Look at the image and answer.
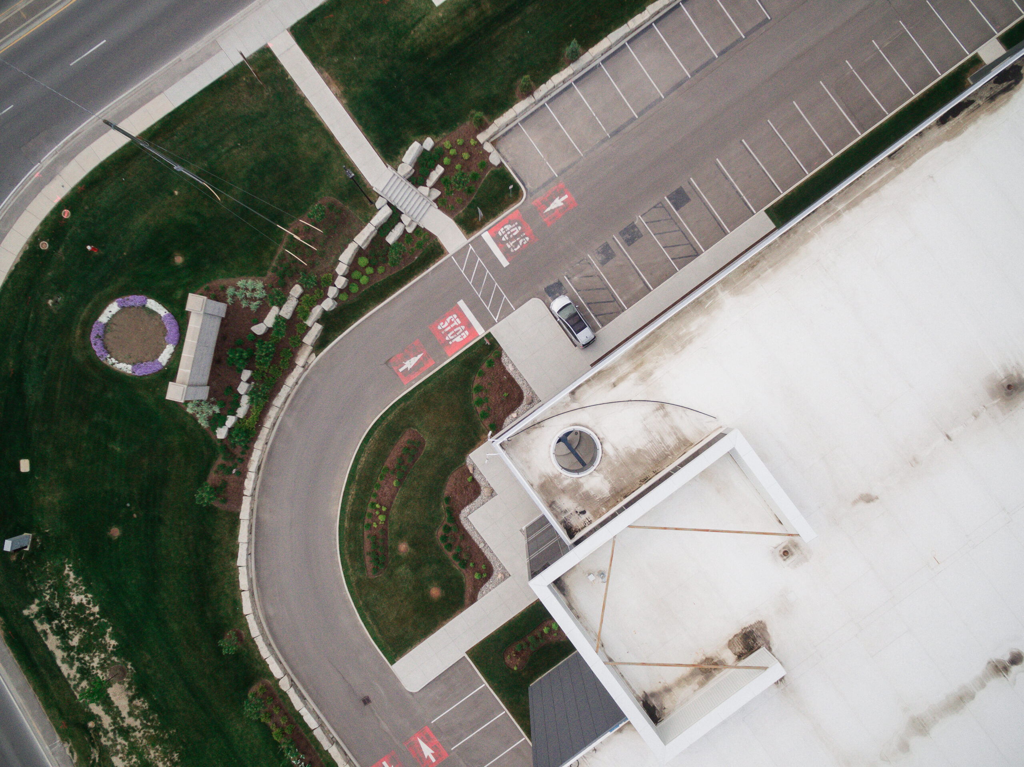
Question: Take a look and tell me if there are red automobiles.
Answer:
No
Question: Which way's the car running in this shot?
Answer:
on a diagonal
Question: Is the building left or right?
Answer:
right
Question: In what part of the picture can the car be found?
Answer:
center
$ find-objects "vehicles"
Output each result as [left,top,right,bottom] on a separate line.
[550,295,597,351]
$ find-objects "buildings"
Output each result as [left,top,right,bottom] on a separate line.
[484,35,1024,767]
